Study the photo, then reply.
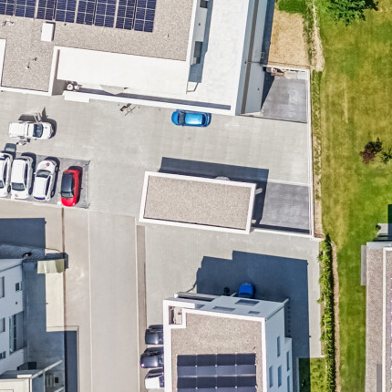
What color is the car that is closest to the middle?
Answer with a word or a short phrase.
blue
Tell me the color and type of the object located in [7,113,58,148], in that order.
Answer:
white car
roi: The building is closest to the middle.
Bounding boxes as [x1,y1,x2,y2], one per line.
[139,169,267,234]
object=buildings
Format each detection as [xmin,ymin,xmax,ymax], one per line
[0,259,66,392]
[139,169,267,234]
[361,232,392,392]
[163,284,300,392]
[0,0,270,114]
